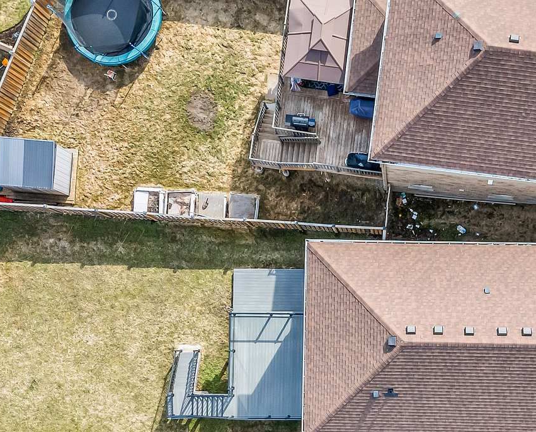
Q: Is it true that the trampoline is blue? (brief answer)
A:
Yes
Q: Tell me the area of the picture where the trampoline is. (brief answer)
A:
top left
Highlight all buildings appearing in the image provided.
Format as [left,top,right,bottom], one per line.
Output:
[300,237,536,432]
[0,137,79,203]
[342,0,536,211]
